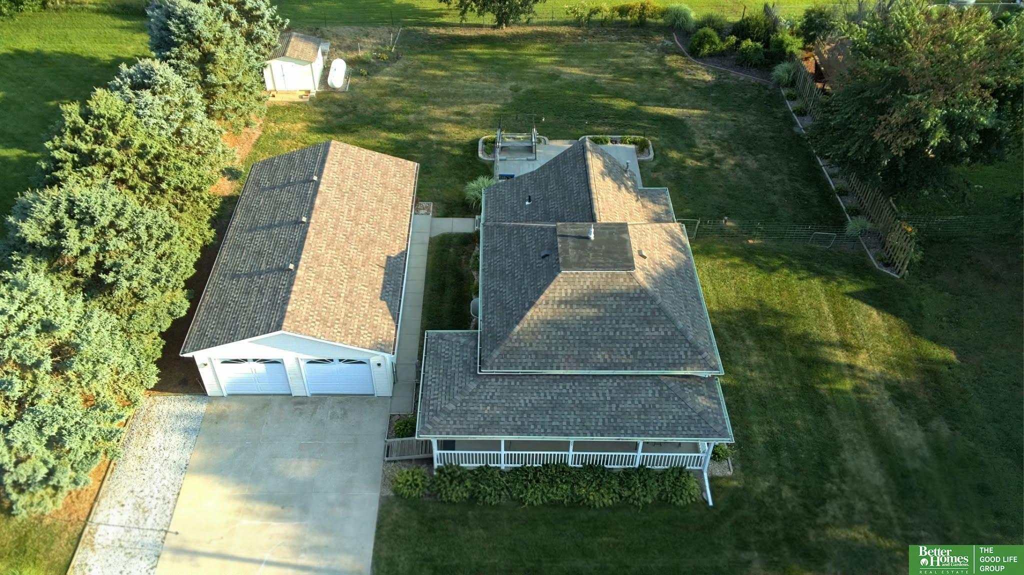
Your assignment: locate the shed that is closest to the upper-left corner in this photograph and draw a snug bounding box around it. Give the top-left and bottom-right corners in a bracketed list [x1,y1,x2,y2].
[262,28,322,93]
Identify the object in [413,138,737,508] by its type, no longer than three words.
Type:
house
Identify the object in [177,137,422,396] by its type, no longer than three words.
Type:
building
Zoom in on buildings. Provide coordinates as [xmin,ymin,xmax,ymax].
[262,28,322,93]
[177,137,422,396]
[413,138,737,508]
